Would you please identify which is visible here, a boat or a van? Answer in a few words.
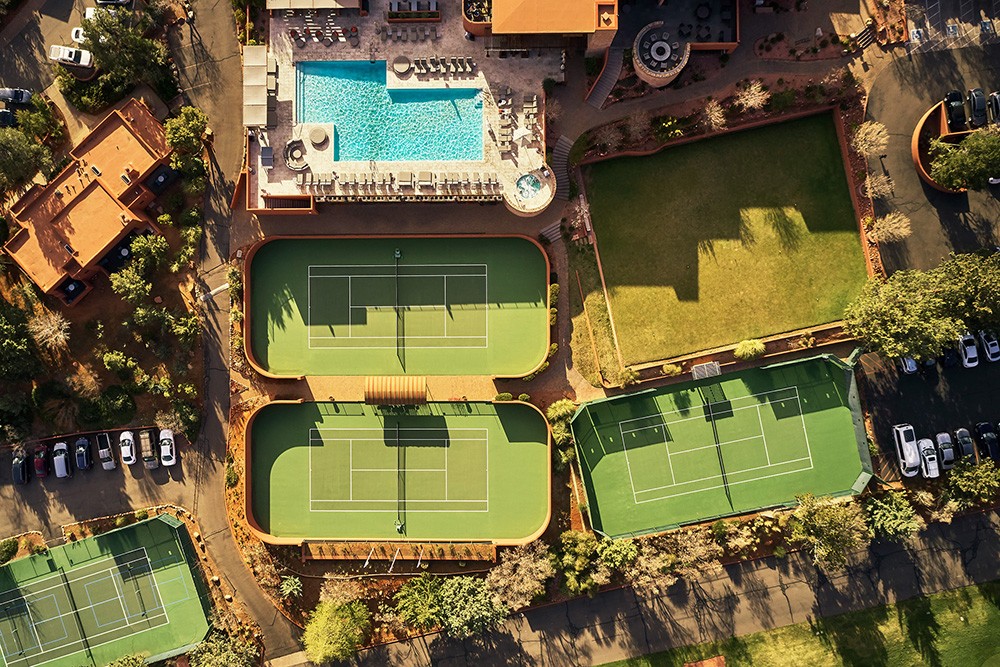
van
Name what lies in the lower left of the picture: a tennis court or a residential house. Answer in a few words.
tennis court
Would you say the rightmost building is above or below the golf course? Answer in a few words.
above it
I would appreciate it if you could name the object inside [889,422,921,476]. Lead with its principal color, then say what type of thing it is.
white van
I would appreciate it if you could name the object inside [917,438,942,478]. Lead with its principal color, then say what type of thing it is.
white car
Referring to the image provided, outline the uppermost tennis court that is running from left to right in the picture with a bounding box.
[252,243,548,376]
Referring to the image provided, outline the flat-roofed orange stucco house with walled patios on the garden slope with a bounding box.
[6,98,181,307]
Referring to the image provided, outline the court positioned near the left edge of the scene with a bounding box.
[0,512,207,667]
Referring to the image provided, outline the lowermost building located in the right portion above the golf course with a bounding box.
[688,358,722,381]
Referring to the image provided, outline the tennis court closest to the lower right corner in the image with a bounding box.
[572,356,859,530]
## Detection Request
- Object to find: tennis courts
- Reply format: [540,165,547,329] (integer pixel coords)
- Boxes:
[0,512,207,667]
[252,243,548,376]
[252,402,548,540]
[572,356,859,530]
